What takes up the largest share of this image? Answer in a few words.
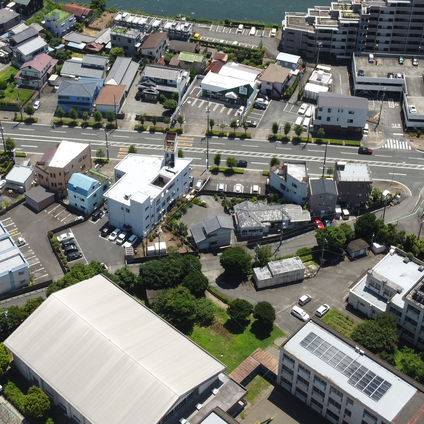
buildings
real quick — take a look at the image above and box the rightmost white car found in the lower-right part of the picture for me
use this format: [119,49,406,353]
[314,303,332,318]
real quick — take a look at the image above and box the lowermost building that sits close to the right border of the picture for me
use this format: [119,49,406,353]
[274,314,424,424]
